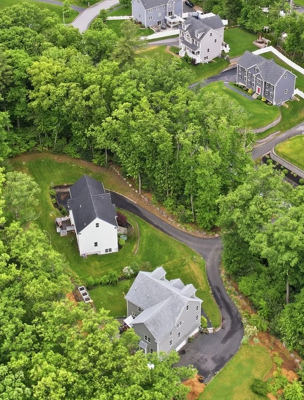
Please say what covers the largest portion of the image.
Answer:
trees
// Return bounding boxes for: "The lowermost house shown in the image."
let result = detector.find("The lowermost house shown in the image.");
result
[123,266,206,368]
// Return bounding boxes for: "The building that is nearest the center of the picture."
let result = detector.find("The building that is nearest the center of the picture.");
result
[64,174,124,259]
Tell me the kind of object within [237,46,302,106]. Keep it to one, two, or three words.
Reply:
house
